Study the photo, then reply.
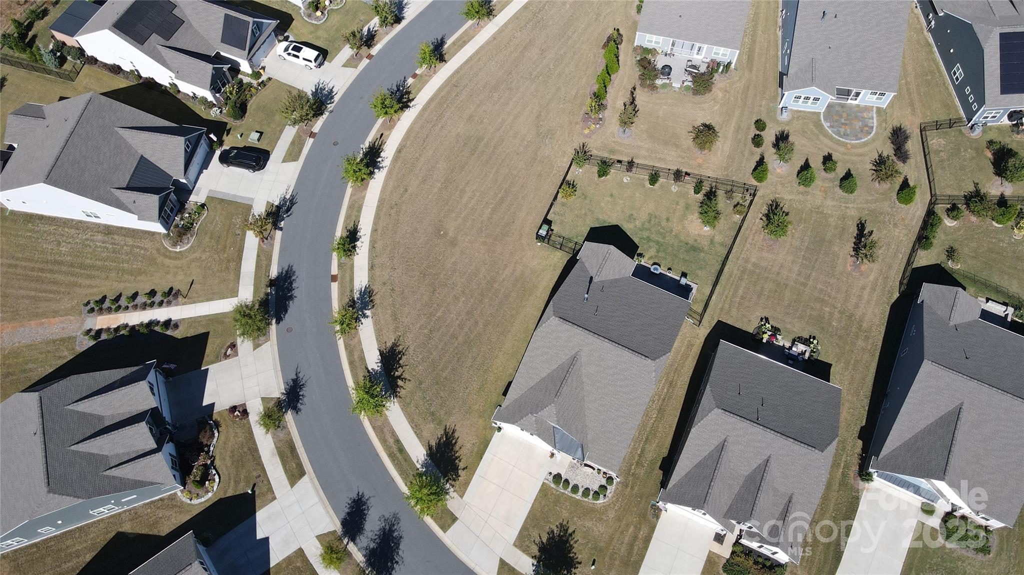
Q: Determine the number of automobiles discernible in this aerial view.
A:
4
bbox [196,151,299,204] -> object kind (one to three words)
car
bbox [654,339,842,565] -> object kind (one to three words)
house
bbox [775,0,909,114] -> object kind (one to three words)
house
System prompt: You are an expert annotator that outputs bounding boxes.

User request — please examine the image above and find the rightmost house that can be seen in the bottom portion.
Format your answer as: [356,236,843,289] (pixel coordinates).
[862,282,1024,538]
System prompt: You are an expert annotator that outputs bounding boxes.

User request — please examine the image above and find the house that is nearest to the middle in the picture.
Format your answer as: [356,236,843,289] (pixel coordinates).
[490,241,692,478]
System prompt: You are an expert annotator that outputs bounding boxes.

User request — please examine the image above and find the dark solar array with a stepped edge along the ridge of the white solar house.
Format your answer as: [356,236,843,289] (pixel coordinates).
[113,0,177,44]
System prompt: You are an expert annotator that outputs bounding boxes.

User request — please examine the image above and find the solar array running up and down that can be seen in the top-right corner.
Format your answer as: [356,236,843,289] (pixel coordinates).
[999,32,1024,95]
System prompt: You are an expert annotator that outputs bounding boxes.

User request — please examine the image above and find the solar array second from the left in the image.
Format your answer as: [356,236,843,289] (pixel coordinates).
[221,13,250,50]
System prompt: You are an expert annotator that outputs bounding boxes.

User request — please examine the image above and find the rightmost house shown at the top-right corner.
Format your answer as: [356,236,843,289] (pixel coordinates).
[928,0,1024,122]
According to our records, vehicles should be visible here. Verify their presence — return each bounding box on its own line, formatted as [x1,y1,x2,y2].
[271,37,328,70]
[196,151,299,204]
[213,143,270,172]
[260,50,355,104]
